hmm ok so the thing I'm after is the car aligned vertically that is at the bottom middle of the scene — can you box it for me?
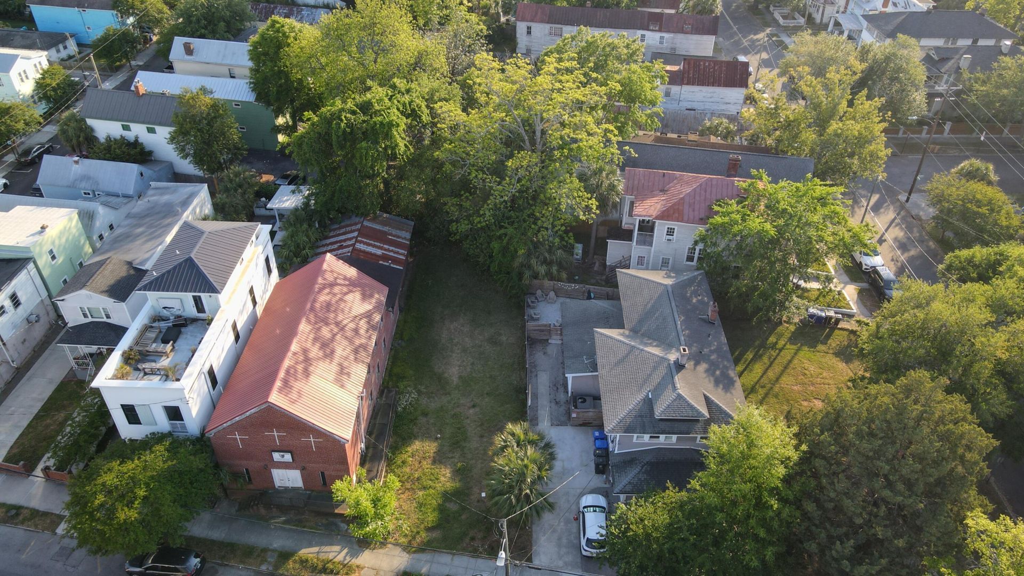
[575,498,609,561]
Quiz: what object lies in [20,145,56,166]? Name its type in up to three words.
car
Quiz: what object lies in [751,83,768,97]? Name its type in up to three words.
car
